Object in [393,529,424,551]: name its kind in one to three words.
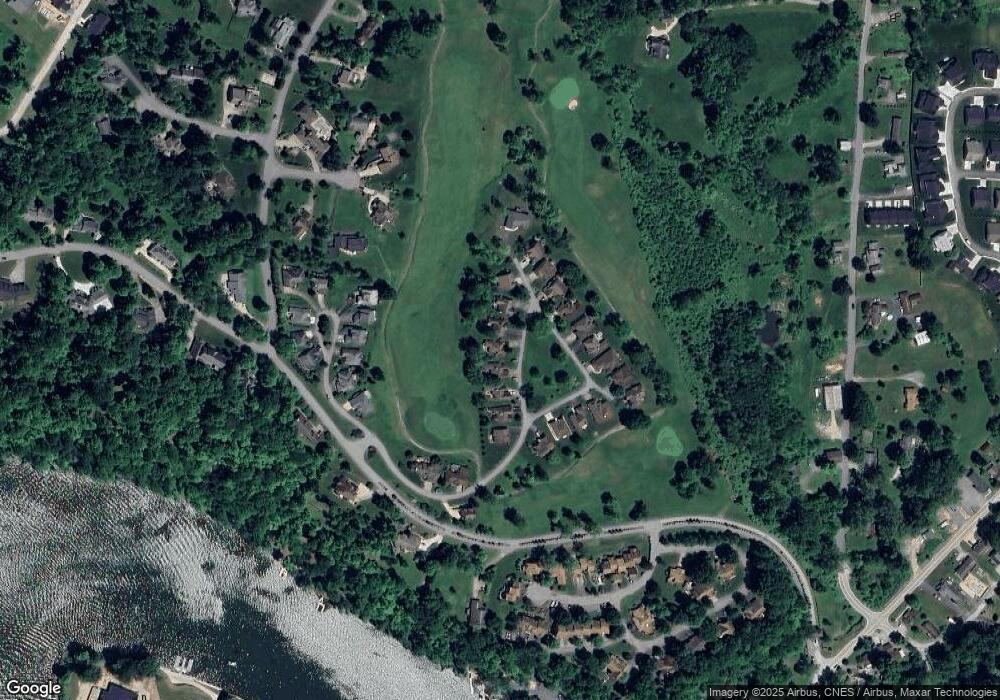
house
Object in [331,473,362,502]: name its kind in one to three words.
house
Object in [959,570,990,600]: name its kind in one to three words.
building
